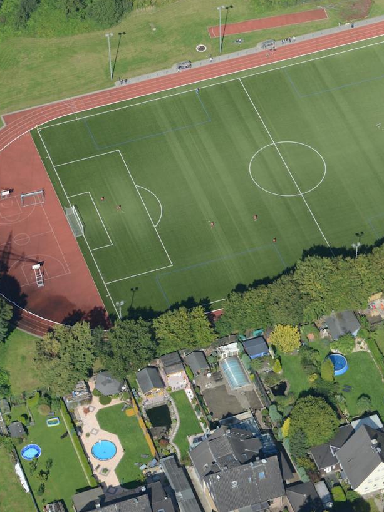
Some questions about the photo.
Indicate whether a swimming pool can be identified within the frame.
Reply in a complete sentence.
Yes, I can see a swimming pool in this picture.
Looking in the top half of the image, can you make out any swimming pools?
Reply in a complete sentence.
No, in the top half of the image there is no swimming pool.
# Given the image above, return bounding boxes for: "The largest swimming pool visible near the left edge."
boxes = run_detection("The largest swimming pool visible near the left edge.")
[18,441,44,460]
